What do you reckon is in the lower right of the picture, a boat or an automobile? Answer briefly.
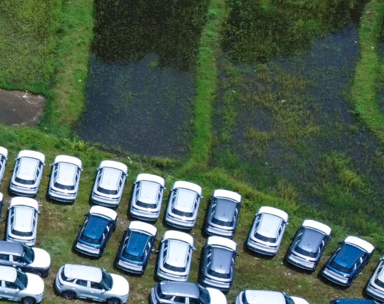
automobile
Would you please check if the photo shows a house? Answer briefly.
No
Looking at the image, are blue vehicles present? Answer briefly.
Yes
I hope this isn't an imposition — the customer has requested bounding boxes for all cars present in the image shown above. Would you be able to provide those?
[238,289,310,304]
[205,188,243,239]
[158,231,194,283]
[58,265,129,304]
[11,150,46,197]
[323,237,374,288]
[118,222,156,275]
[289,221,331,273]
[154,282,227,304]
[248,205,289,257]
[130,174,166,222]
[92,160,129,209]
[0,147,9,190]
[49,156,83,203]
[7,199,40,247]
[0,241,54,278]
[0,266,45,304]
[202,237,240,291]
[368,257,384,303]
[166,181,203,230]
[76,208,119,258]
